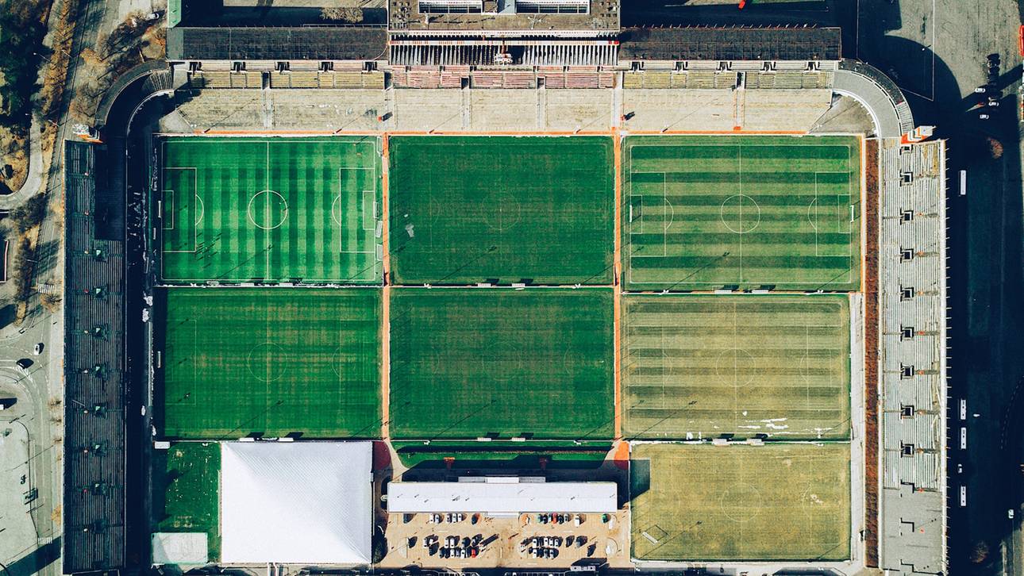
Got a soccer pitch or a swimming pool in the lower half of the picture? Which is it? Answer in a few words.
soccer pitch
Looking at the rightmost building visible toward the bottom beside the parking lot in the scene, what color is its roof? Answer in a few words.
white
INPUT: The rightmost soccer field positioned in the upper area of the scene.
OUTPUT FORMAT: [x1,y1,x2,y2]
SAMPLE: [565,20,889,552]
[622,136,860,291]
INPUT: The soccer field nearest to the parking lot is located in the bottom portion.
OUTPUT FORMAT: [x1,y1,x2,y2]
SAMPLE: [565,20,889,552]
[632,442,851,561]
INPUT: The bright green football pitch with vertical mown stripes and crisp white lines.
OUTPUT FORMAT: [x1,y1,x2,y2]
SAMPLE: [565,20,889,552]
[157,136,382,285]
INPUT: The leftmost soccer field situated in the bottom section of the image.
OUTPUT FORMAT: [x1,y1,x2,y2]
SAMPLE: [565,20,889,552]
[152,287,382,439]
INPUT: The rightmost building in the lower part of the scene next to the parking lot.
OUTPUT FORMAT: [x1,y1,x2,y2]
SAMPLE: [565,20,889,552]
[382,473,617,517]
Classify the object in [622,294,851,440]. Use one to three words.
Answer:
soccer field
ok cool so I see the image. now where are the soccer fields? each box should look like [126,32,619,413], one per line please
[157,136,382,285]
[622,136,860,291]
[632,442,851,561]
[152,287,382,439]
[622,294,851,440]
[390,136,615,285]
[390,287,615,439]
